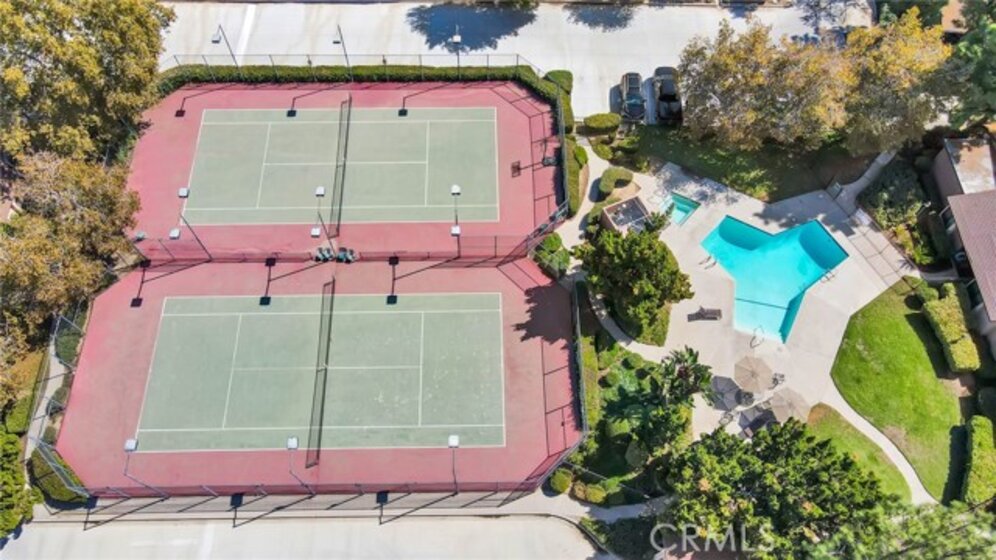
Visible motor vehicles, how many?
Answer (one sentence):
I count 2 motor vehicles.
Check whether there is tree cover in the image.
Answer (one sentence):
Yes, some tree cover is visible.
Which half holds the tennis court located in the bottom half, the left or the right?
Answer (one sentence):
The tennis court located in the bottom half appears in the left half of the scene.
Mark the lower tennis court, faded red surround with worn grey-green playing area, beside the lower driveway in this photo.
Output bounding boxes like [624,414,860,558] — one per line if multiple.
[56,256,581,497]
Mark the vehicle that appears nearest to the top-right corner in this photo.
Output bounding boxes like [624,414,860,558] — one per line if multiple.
[656,68,689,124]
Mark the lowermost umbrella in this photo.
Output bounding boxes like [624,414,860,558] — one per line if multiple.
[767,384,811,427]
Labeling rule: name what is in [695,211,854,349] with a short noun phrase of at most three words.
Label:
swimming pool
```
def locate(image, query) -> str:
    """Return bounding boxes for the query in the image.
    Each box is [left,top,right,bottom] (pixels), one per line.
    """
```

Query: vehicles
[619,71,649,122]
[656,68,689,124]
